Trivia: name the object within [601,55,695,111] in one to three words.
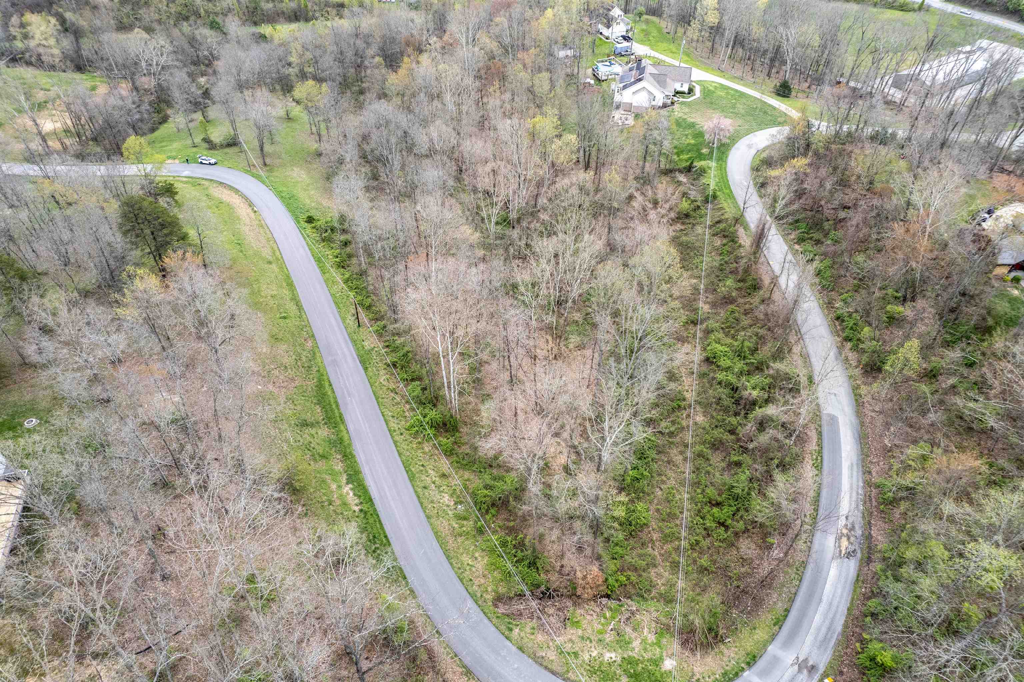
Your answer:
house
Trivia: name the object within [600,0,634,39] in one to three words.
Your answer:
house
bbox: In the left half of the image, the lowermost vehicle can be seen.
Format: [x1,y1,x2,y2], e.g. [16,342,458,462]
[191,150,218,165]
